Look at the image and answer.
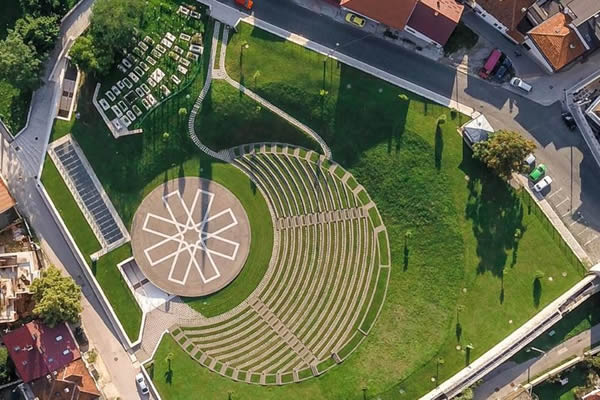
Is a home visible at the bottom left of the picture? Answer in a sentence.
Yes, the scene does show a home at the bottom left of the picture.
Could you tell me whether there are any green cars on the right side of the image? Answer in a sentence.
Yes, I can see a green car on the right side of the image.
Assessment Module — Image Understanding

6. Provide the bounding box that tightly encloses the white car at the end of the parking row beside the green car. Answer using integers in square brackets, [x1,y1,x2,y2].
[530,174,554,193]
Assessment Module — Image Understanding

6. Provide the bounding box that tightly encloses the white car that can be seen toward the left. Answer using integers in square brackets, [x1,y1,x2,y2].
[135,371,152,395]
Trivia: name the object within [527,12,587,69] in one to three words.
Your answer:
house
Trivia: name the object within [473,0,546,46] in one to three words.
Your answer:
house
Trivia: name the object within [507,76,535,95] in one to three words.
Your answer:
car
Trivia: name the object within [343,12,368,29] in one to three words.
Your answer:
car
